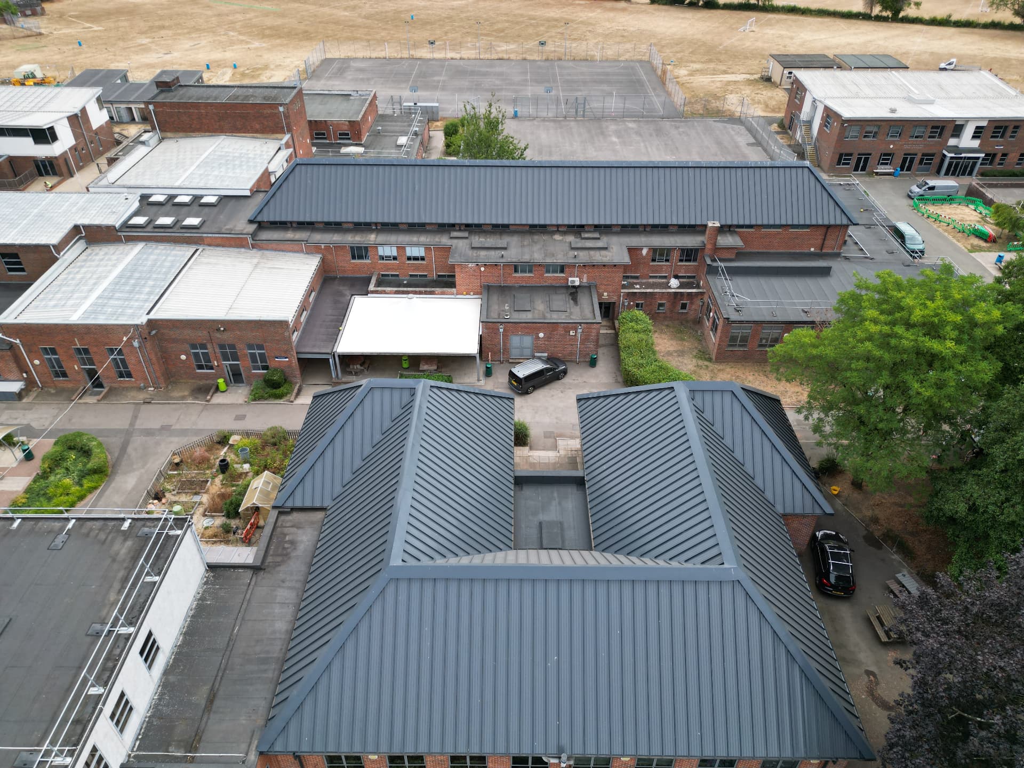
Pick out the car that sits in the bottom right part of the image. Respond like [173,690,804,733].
[811,533,855,605]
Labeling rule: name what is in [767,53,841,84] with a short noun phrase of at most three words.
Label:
building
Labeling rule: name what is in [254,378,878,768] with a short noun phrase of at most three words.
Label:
building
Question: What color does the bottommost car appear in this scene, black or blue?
black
